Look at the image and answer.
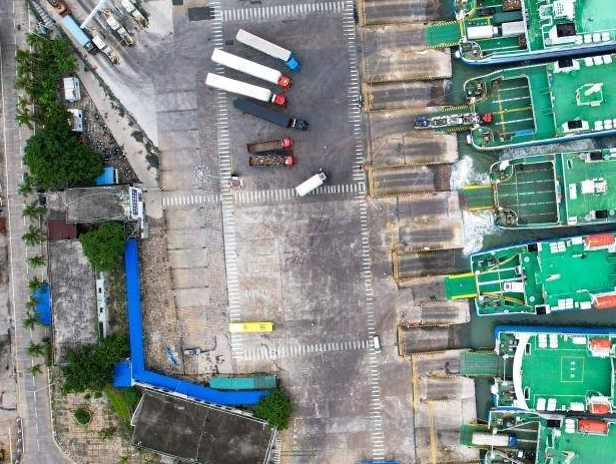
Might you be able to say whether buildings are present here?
Yes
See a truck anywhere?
Yes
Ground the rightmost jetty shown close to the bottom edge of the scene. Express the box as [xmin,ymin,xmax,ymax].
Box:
[401,349,481,464]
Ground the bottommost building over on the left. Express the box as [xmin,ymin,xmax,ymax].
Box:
[131,386,282,464]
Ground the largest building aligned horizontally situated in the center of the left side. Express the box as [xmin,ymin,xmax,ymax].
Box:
[64,185,144,223]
